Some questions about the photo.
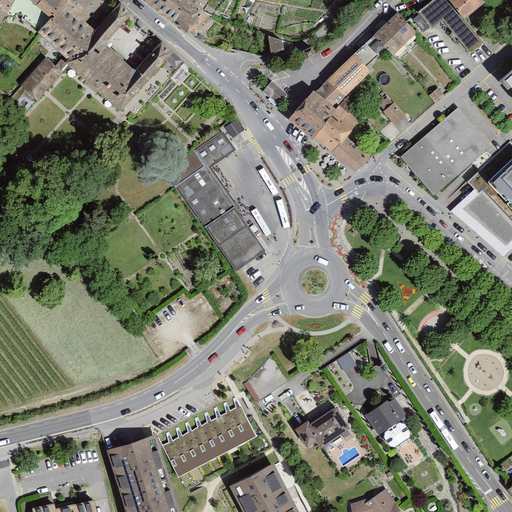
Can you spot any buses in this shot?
Yes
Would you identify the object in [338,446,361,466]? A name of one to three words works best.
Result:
swimming pool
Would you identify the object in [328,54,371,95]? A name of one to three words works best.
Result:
house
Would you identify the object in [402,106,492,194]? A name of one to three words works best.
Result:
building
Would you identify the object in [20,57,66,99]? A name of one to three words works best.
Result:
house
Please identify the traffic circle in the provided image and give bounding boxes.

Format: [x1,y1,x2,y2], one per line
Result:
[280,247,350,317]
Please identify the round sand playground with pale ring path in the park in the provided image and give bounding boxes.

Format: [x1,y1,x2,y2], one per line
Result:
[464,350,510,395]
